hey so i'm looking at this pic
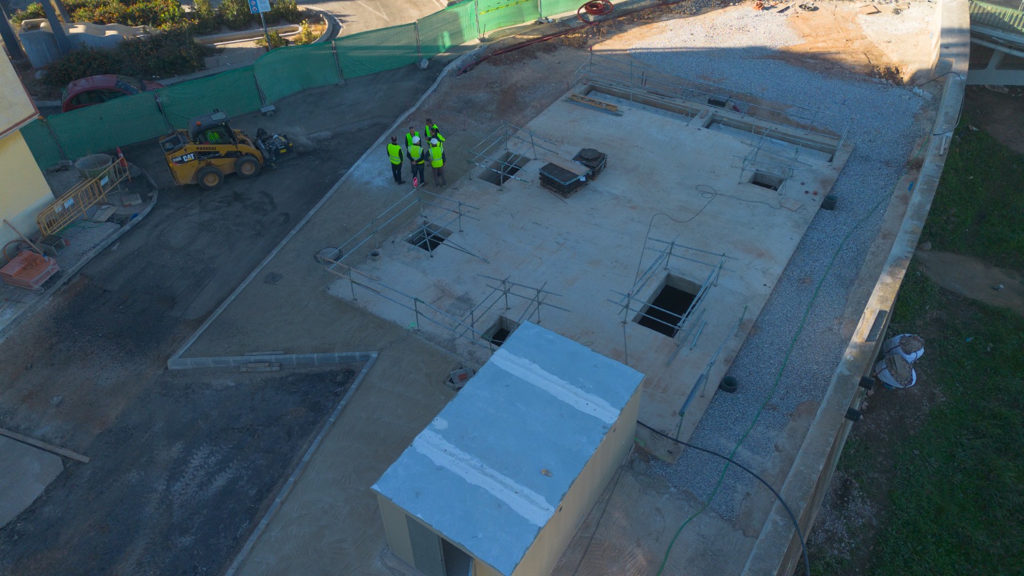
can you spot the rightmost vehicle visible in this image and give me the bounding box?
[156,110,301,191]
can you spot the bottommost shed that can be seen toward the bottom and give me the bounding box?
[373,321,646,576]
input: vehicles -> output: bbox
[156,110,301,191]
[57,73,171,114]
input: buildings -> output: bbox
[373,321,646,576]
[0,46,54,263]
